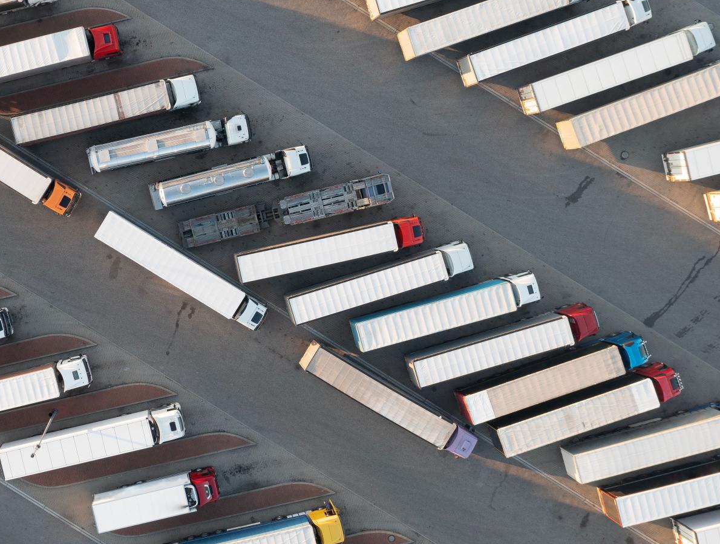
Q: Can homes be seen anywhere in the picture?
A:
No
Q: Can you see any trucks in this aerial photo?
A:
Yes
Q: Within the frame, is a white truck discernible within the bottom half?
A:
Yes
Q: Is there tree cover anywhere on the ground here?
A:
No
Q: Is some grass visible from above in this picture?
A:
No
